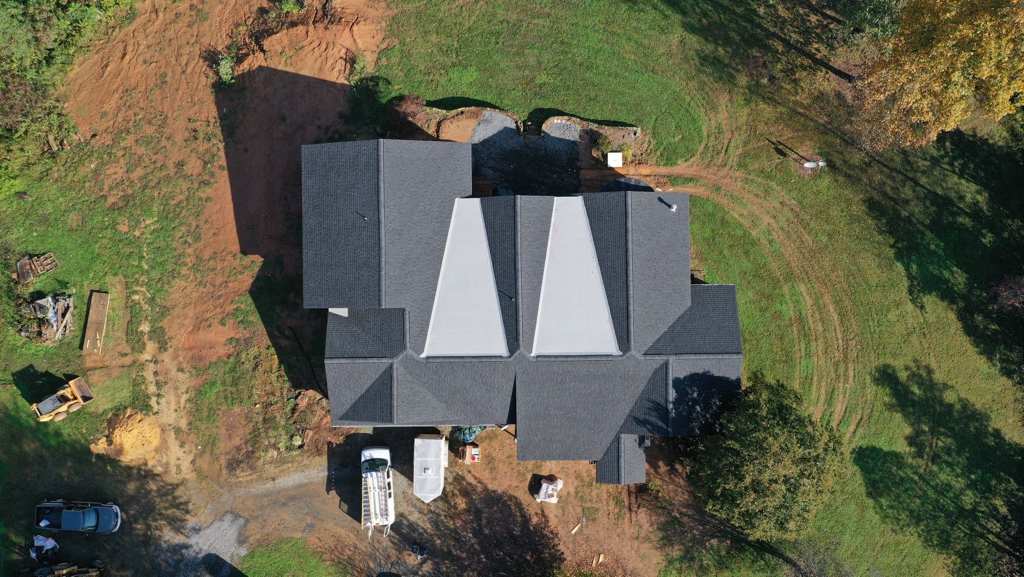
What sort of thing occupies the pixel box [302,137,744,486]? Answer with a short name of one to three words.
house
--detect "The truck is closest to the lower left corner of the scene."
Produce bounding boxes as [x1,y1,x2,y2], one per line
[38,502,125,540]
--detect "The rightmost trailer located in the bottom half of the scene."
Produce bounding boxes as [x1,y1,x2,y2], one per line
[415,429,450,508]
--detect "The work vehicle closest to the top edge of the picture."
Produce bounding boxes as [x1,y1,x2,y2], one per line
[23,376,92,423]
